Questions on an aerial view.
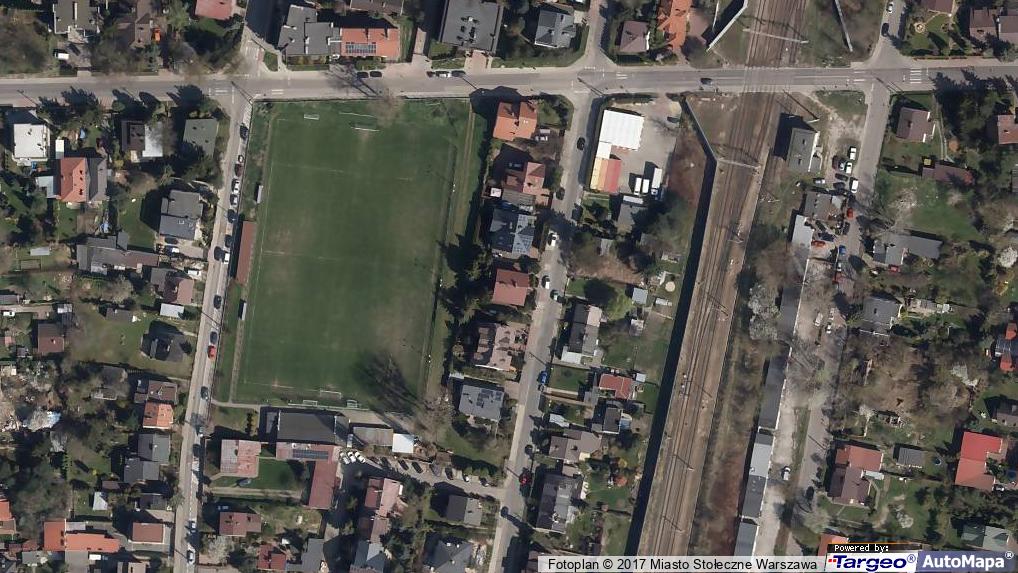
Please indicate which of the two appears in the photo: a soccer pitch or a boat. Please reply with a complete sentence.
This aerial view contains a soccer pitch.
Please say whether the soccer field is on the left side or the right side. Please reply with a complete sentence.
The soccer field appears in the left half of the scene.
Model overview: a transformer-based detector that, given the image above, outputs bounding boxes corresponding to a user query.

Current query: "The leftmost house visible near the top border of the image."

[55,0,99,37]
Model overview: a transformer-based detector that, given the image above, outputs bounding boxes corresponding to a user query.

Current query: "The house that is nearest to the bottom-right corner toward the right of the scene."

[961,525,1011,549]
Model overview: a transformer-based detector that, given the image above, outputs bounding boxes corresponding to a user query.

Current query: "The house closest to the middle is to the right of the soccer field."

[492,269,529,306]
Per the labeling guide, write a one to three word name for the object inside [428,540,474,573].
house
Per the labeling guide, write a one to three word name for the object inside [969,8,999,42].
house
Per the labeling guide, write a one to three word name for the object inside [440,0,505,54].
building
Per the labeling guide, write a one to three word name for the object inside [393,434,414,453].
shed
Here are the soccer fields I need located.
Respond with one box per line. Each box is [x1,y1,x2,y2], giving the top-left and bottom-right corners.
[239,113,448,407]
